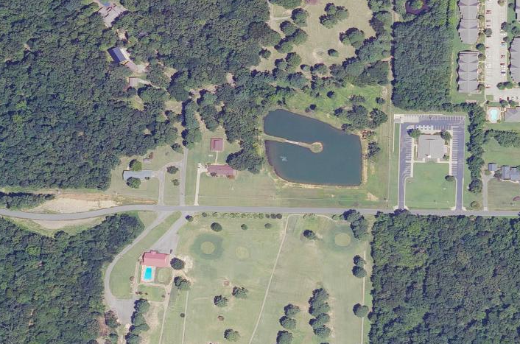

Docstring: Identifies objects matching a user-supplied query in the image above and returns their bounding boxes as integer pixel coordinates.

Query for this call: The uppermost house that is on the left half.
[99,2,127,29]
